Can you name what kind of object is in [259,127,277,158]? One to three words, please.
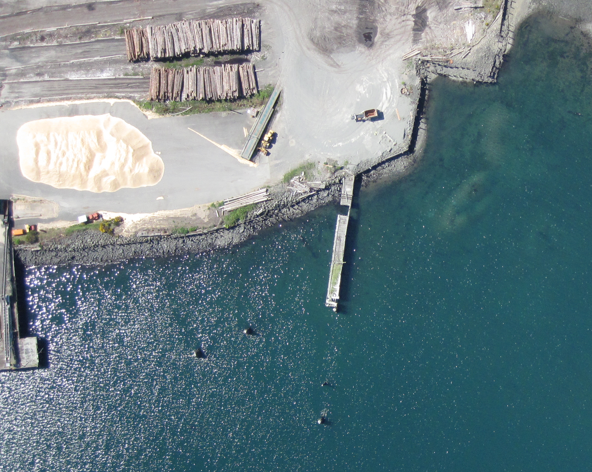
work vehicle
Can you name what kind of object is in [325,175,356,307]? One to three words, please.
pier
